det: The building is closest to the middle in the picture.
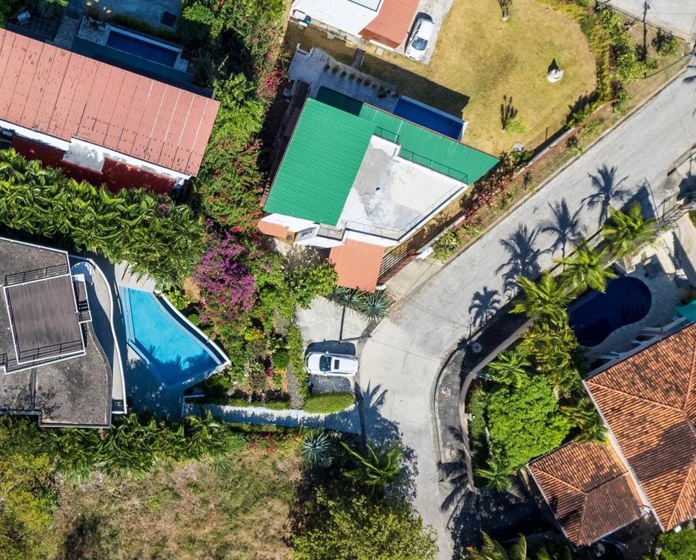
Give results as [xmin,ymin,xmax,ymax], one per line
[258,75,501,292]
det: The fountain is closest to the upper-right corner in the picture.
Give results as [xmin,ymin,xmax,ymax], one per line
[547,69,565,84]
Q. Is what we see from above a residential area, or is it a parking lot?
residential area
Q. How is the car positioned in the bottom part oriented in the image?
horizontally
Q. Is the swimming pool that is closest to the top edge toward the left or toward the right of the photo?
left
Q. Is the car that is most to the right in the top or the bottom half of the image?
top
